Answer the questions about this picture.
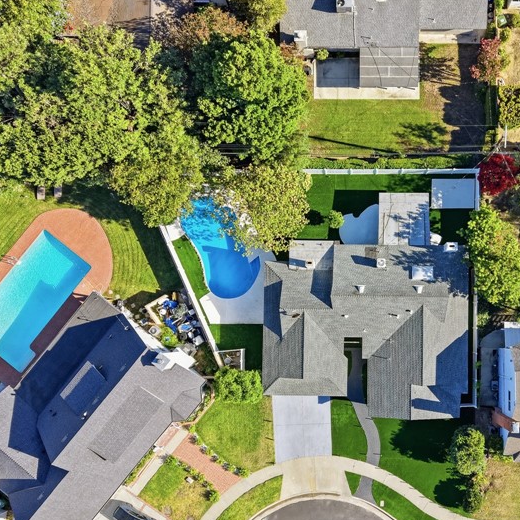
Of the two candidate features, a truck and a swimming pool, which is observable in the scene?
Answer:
swimming pool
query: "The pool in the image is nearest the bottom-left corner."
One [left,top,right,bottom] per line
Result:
[0,229,92,373]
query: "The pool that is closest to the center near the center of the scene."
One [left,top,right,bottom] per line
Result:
[179,195,262,300]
